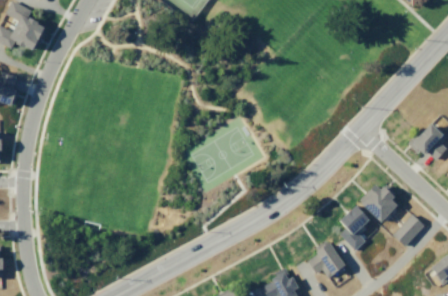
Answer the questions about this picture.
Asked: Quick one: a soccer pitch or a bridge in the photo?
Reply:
soccer pitch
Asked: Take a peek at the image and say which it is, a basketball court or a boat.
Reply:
basketball court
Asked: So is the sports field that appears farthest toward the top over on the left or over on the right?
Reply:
right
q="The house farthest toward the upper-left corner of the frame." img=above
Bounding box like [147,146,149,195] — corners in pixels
[0,1,45,50]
